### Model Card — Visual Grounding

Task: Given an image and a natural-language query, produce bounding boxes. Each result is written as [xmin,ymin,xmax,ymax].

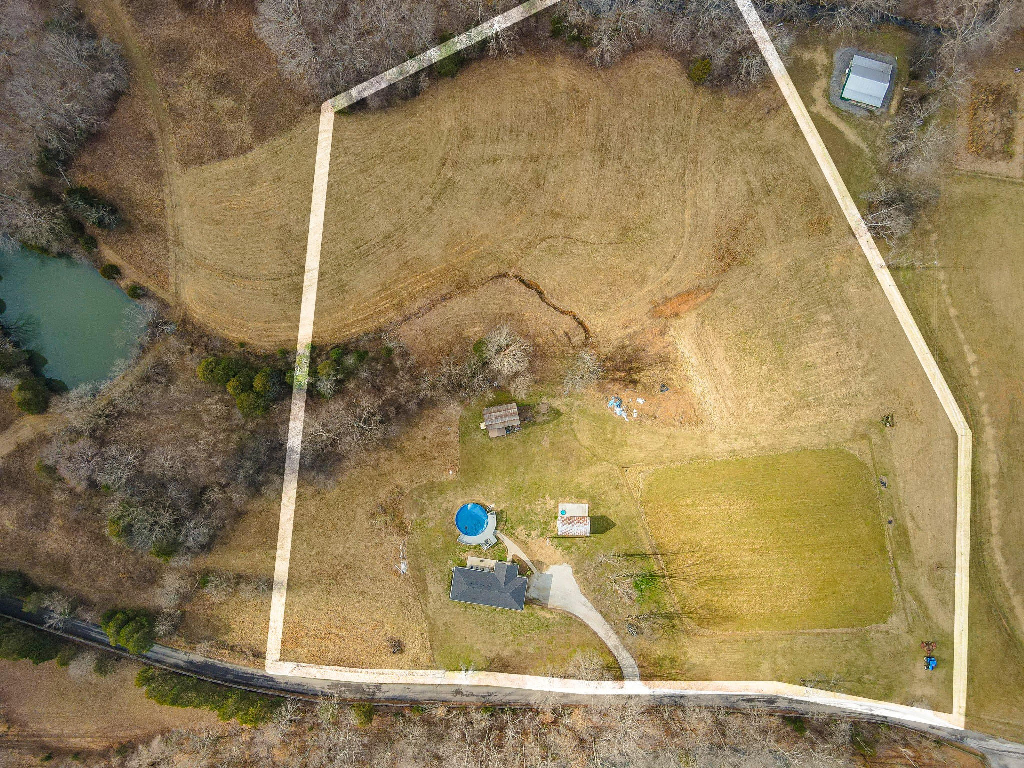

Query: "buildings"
[558,516,591,536]
[838,55,893,115]
[483,403,522,438]
[450,560,529,612]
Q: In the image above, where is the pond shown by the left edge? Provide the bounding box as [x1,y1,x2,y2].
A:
[0,240,144,389]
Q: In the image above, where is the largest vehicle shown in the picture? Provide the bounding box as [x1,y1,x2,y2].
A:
[925,656,938,672]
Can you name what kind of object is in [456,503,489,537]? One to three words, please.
swimming pool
